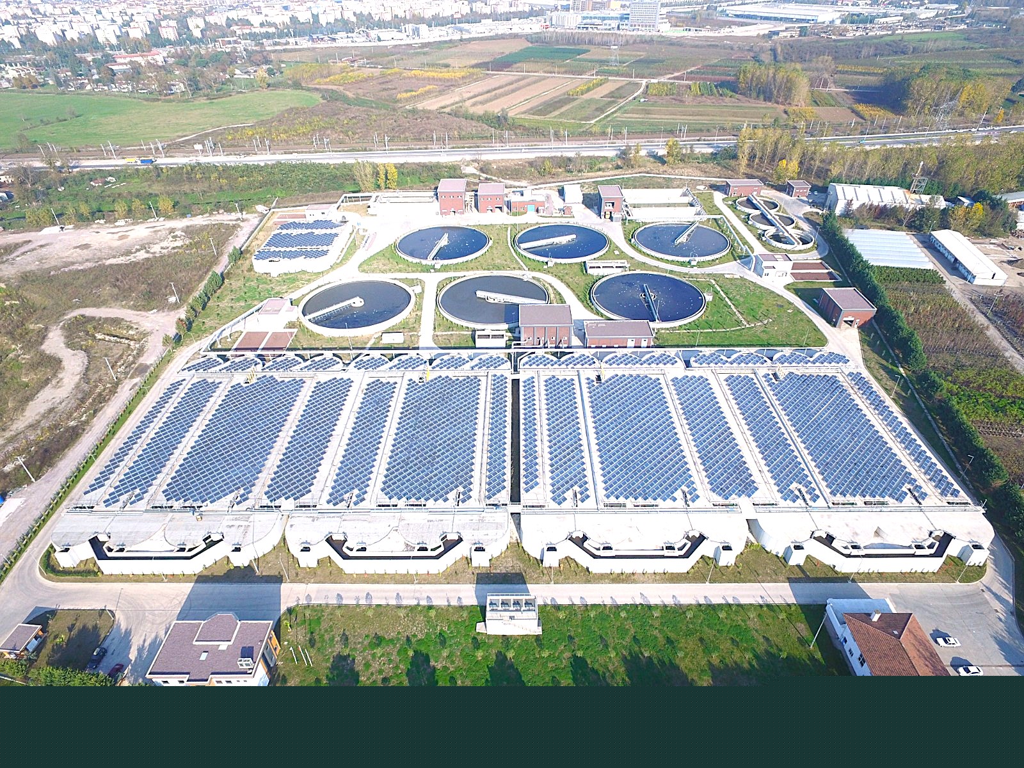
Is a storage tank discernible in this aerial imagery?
Yes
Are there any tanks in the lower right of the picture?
No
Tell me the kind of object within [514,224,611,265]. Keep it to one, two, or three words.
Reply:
storage tank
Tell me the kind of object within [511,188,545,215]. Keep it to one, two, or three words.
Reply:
building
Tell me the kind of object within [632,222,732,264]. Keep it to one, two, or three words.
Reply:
storage tank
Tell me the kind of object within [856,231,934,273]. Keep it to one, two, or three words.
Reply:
greenhouse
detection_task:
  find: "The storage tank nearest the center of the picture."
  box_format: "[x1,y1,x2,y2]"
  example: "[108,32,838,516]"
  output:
[436,275,552,331]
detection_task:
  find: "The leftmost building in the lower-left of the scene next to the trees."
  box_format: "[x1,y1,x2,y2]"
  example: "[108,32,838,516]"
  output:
[0,622,50,662]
